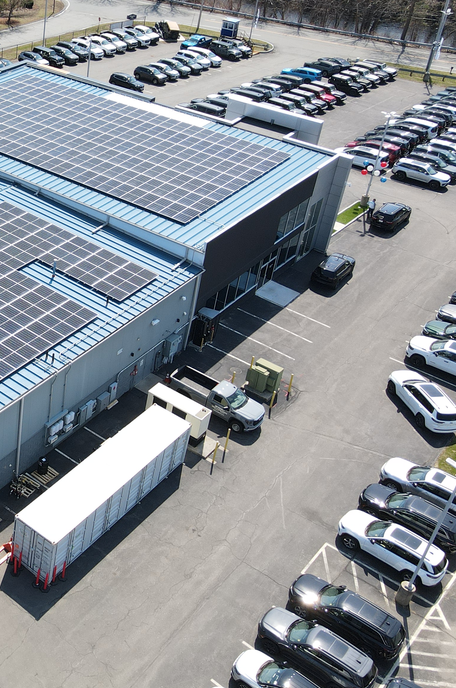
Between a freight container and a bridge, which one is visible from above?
freight container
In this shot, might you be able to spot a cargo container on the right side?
No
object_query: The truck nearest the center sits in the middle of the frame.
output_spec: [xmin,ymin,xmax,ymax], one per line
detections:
[167,367,268,435]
